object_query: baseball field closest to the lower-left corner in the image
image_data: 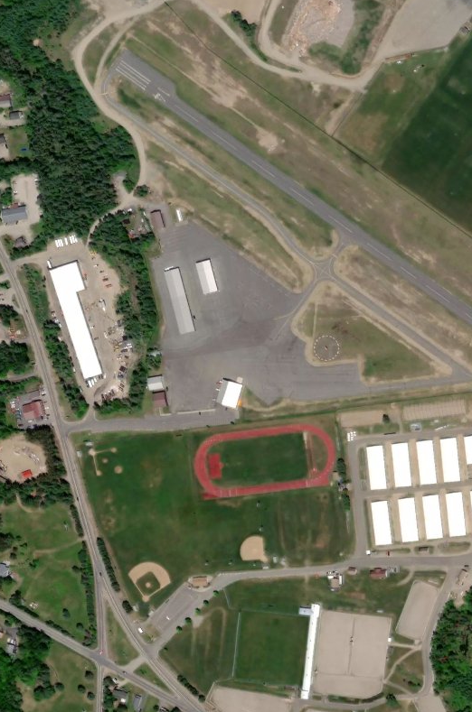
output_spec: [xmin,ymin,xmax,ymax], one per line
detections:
[129,562,171,603]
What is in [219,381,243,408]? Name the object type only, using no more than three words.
building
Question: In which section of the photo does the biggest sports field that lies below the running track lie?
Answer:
bottom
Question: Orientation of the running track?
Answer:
from side to side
